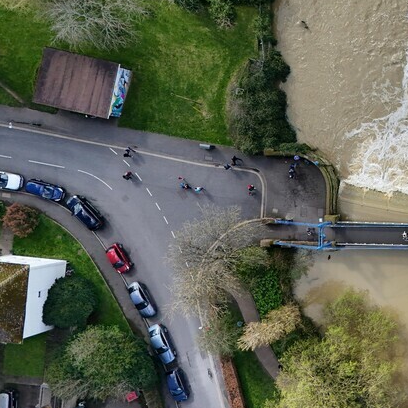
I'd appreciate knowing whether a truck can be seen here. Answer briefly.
No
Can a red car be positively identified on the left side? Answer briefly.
Yes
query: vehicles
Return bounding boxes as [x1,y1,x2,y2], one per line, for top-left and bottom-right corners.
[62,191,107,236]
[21,180,66,204]
[102,239,134,278]
[124,278,158,322]
[0,171,22,193]
[145,323,179,369]
[161,365,192,407]
[0,388,18,408]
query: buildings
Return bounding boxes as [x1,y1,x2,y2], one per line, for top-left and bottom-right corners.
[0,254,66,347]
[33,47,131,119]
